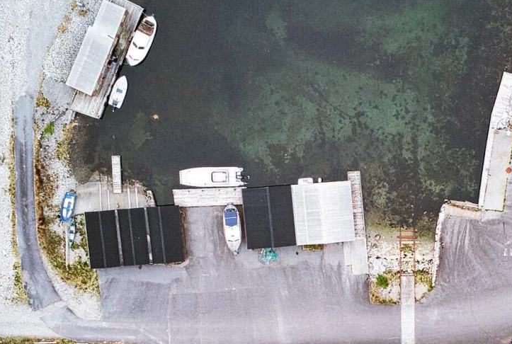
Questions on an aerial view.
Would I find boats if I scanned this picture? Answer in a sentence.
Yes, looking at the shot, I can spot a boat.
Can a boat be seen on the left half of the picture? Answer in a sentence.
Yes, a boat appears on the left half of the picture.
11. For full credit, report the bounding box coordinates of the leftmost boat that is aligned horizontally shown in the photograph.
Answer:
[178,166,243,186]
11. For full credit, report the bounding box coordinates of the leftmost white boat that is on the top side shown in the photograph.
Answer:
[109,75,127,112]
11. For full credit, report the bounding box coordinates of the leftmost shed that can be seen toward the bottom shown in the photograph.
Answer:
[84,205,189,267]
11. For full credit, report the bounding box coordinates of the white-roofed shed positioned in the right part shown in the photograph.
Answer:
[291,180,354,245]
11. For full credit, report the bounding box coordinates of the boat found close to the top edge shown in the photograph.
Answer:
[130,12,158,64]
